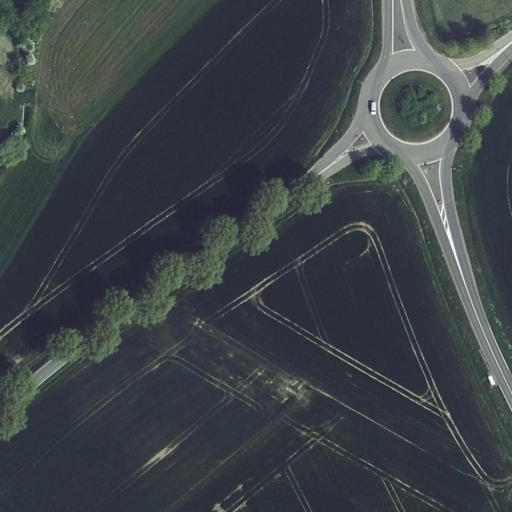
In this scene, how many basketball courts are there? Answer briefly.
0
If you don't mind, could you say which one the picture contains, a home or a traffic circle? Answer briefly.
traffic circle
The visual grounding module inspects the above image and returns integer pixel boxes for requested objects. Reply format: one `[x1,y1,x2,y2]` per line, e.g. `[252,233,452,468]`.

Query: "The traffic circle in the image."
[359,50,473,164]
